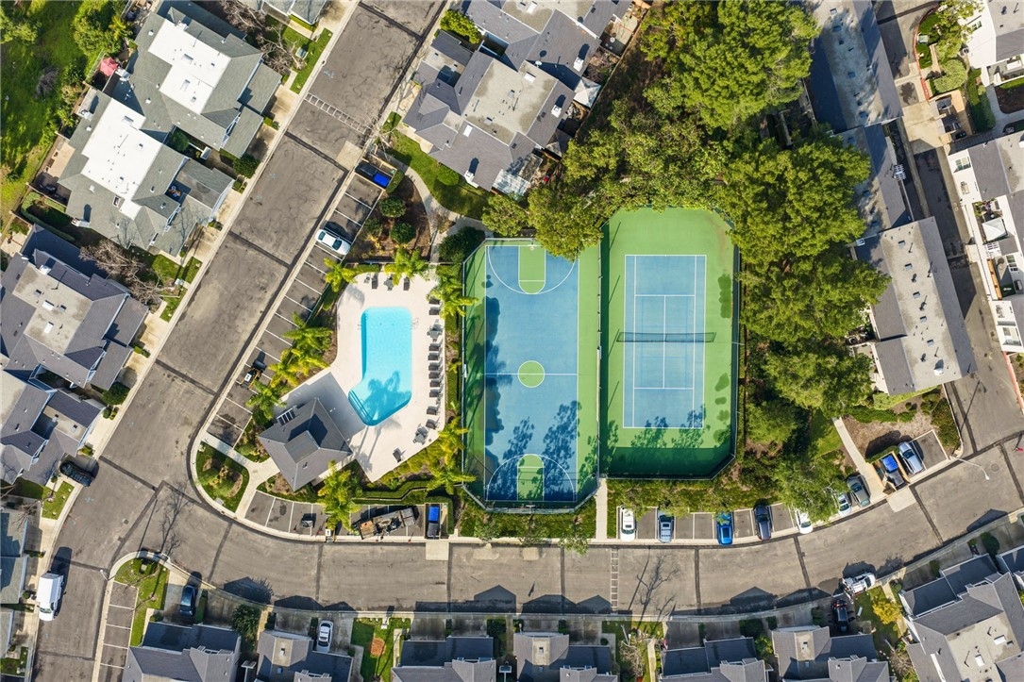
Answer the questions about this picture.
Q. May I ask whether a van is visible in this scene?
Yes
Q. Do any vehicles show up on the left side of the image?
Yes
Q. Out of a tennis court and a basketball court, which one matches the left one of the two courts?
basketball court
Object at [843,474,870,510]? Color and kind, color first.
gray car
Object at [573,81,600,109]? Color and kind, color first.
white gazebo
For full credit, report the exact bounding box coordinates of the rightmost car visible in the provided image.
[894,440,923,476]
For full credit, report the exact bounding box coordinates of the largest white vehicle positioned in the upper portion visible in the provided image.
[313,228,353,256]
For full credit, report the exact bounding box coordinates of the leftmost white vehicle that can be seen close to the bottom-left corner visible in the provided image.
[38,571,67,620]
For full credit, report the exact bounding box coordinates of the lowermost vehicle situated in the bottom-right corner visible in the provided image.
[826,596,856,633]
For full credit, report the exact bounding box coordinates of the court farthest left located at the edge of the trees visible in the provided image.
[465,240,598,507]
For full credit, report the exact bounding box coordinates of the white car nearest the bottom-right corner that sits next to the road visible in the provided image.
[840,569,877,597]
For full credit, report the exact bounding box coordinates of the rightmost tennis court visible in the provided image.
[600,207,730,475]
